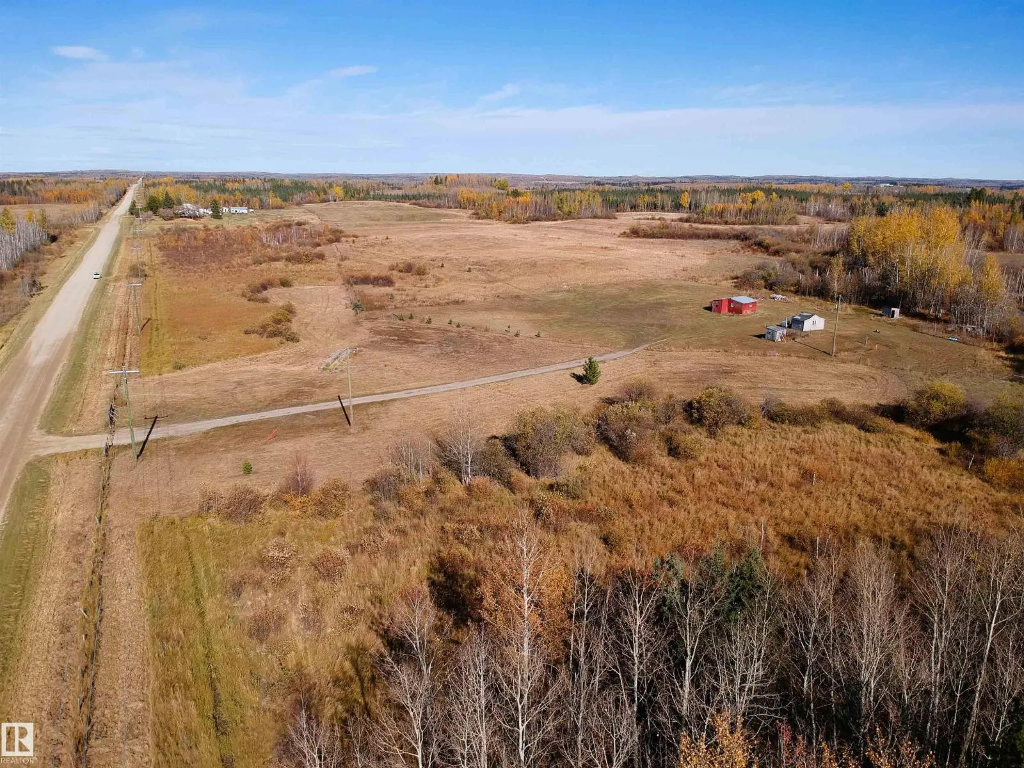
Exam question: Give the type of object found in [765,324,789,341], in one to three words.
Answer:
shed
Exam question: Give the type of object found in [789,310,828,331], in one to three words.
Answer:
building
